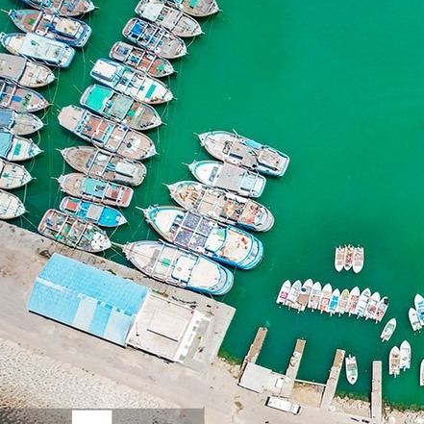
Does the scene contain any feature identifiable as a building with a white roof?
Yes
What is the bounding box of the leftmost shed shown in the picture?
[29,254,151,346]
